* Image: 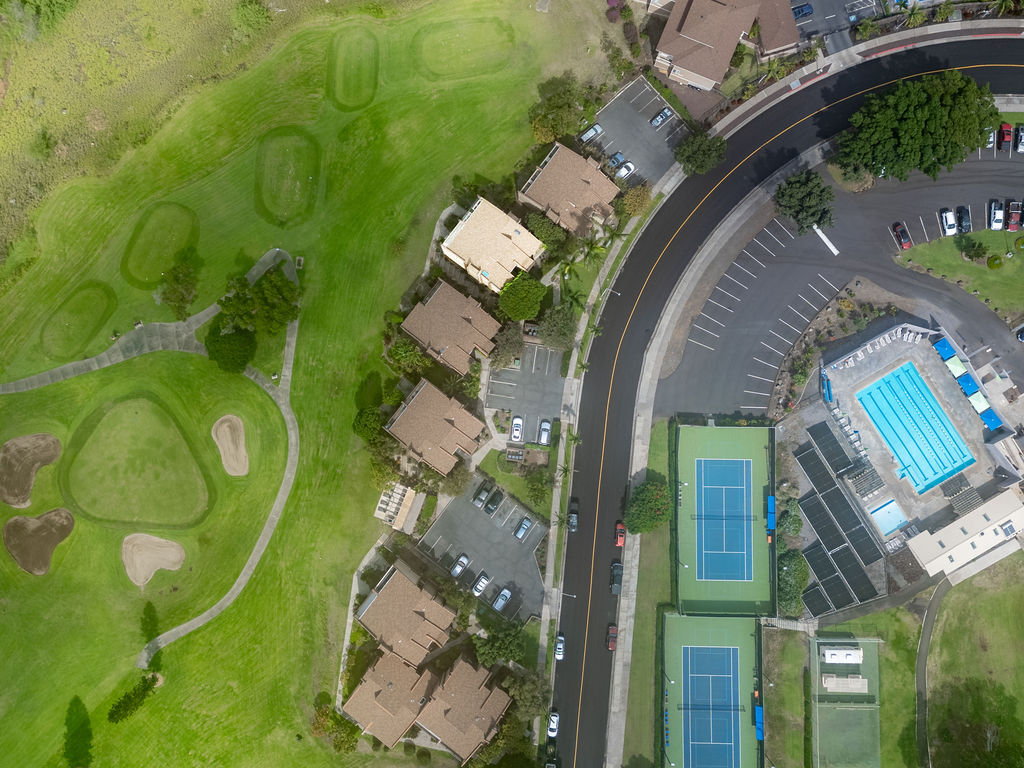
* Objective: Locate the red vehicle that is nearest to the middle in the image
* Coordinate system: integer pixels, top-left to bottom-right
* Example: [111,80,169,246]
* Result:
[614,523,626,548]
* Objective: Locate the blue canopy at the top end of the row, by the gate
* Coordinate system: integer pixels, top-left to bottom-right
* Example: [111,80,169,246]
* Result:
[932,337,957,361]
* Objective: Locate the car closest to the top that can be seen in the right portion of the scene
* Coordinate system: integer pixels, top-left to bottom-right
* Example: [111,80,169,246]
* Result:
[795,4,815,20]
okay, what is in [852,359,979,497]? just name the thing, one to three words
swimming pool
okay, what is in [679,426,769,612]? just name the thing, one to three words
tennis court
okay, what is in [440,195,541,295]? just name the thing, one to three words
house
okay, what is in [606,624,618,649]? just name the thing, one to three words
vehicle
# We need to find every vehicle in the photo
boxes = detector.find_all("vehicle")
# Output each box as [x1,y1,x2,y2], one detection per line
[450,553,470,575]
[893,224,910,249]
[547,711,558,736]
[606,624,618,649]
[1019,202,1024,227]
[579,122,604,145]
[614,159,636,179]
[1014,325,1024,347]
[471,572,492,593]
[609,563,622,593]
[954,206,970,232]
[484,489,505,513]
[545,736,556,761]
[999,124,1013,153]
[539,419,551,444]
[473,480,496,507]
[512,515,534,541]
[511,416,522,441]
[567,509,579,534]
[795,4,815,20]
[939,210,956,236]
[614,523,626,548]
[1005,202,1022,231]
[554,633,565,657]
[649,109,670,129]
[987,201,1003,230]
[606,151,627,170]
[492,586,512,613]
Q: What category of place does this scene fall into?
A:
golf course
